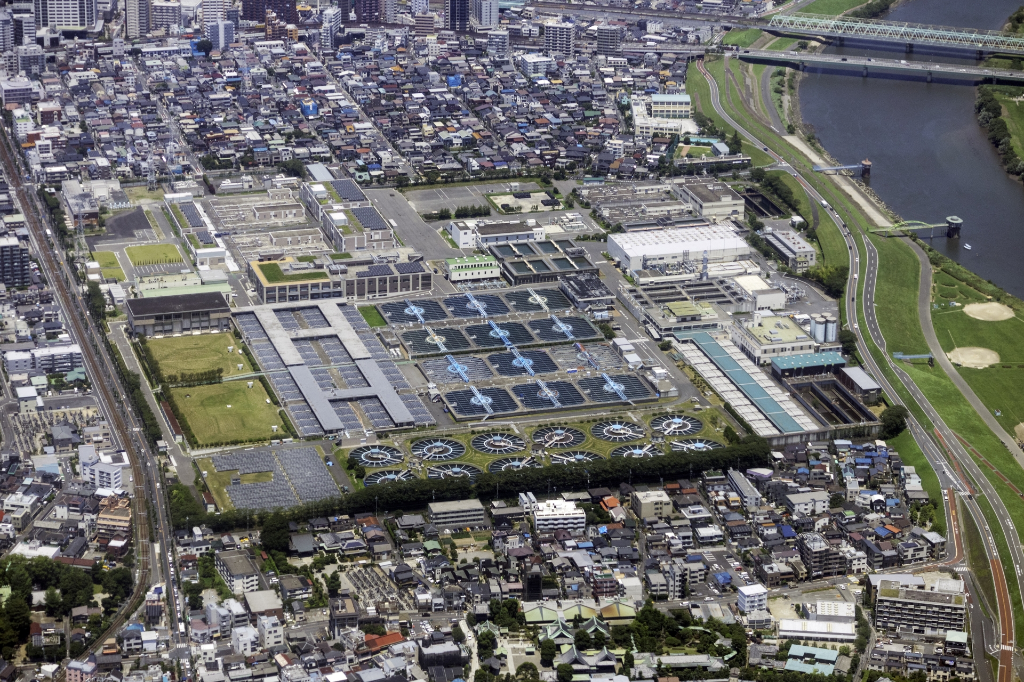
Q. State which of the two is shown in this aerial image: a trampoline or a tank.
tank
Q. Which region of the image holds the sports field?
right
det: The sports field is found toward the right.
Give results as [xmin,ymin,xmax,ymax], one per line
[931,269,1024,450]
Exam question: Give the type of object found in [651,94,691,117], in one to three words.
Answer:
building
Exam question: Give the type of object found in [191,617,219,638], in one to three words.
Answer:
house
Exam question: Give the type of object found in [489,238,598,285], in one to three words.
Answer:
water tank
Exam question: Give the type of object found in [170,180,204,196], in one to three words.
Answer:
shed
